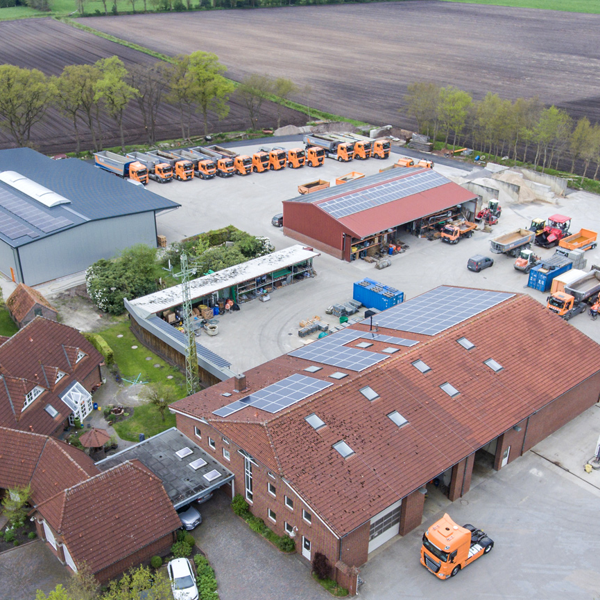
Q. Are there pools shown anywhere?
No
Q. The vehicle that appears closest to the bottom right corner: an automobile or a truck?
truck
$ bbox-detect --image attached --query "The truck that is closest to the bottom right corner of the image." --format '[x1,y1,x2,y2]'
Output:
[426,509,501,573]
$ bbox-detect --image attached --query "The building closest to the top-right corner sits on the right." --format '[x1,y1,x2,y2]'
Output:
[282,166,478,262]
